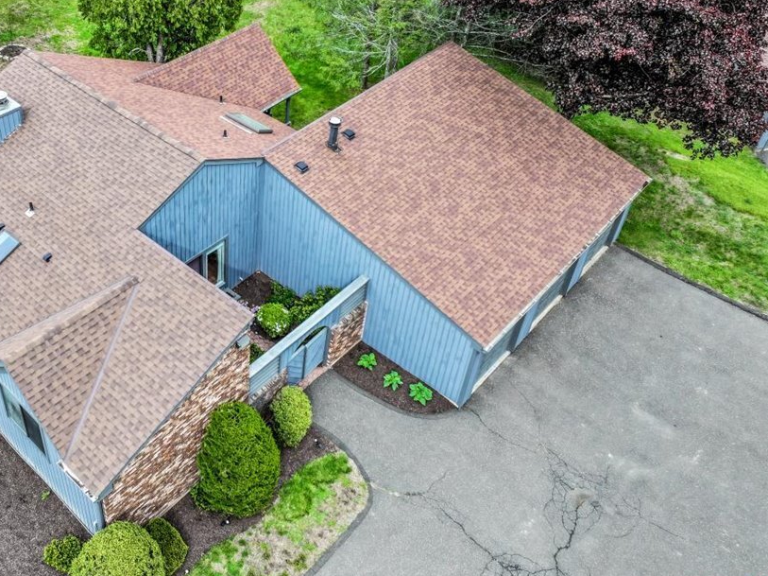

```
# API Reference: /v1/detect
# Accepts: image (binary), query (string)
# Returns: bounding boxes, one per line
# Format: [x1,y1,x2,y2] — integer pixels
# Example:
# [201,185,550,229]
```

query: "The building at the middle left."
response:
[0,21,307,536]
